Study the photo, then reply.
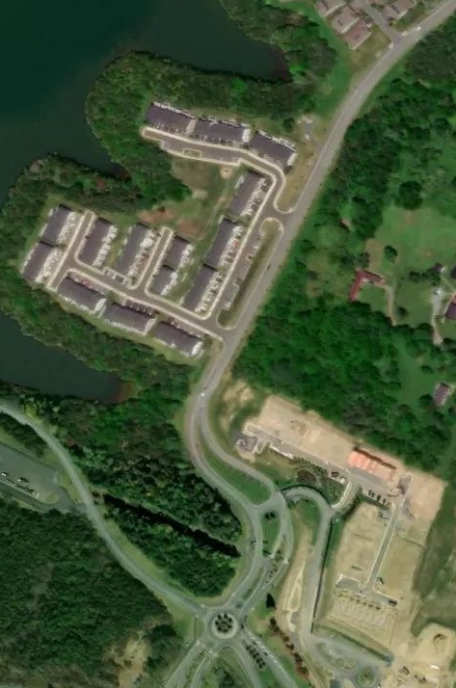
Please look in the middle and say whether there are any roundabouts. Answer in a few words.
No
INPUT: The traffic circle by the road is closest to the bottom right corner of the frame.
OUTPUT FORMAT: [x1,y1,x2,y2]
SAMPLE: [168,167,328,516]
[350,662,380,688]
